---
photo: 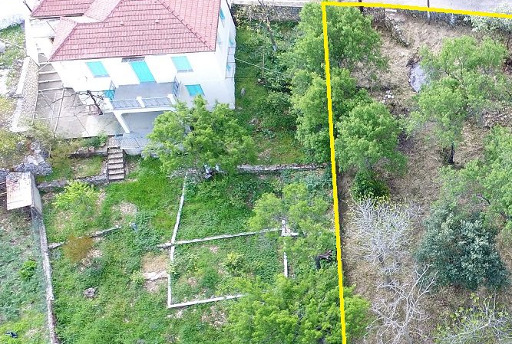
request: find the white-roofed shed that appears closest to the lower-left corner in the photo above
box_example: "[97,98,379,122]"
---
[7,171,41,221]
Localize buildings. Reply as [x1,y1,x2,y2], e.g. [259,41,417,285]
[26,0,236,171]
[7,171,41,221]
